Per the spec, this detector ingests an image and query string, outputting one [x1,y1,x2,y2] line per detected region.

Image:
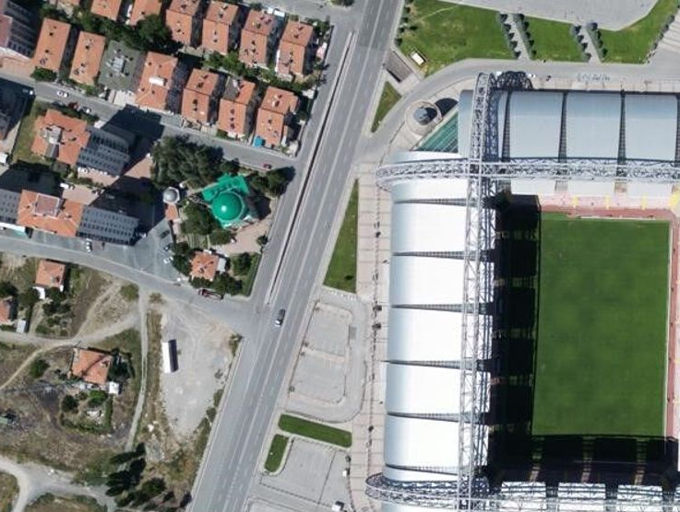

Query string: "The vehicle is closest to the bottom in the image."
[163,341,175,372]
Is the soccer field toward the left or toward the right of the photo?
right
